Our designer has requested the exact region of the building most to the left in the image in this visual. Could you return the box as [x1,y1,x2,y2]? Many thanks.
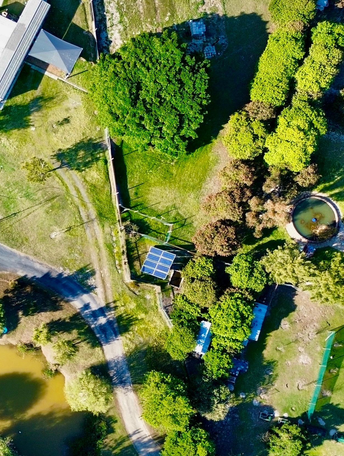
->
[0,0,51,100]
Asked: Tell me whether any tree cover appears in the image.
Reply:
Yes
